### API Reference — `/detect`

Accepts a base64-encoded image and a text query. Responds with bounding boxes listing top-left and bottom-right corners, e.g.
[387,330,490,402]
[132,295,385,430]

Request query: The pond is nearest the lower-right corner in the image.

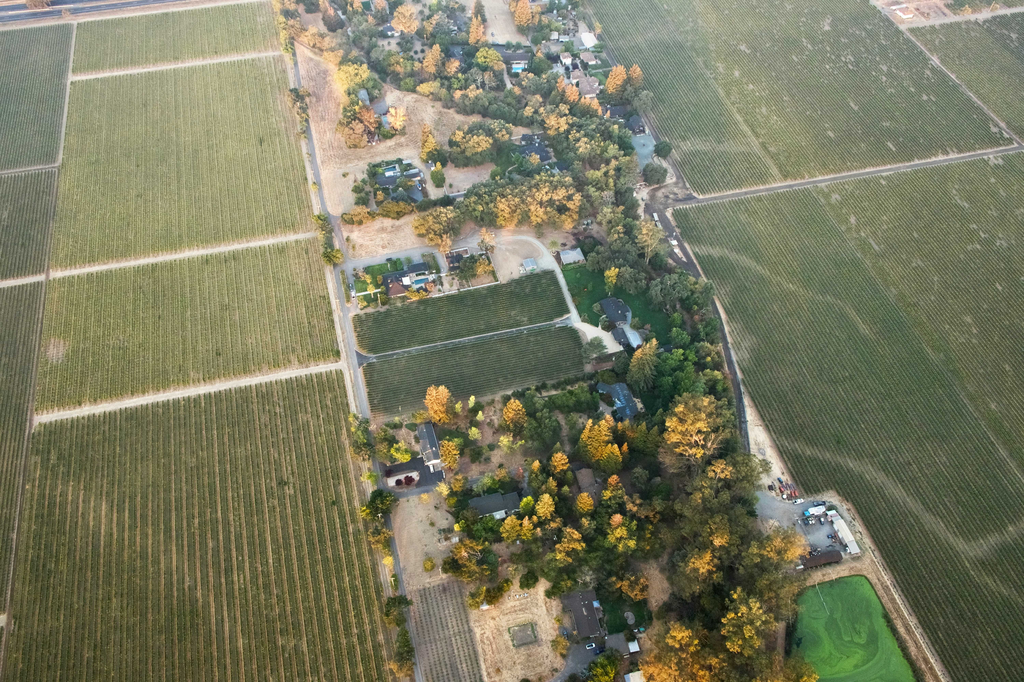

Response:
[791,576,914,682]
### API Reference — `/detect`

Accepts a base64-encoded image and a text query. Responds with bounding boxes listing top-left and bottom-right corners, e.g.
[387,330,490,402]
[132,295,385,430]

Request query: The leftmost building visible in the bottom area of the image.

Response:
[416,424,440,467]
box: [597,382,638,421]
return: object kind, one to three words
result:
house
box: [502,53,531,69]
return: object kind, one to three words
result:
house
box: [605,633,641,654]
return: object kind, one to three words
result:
building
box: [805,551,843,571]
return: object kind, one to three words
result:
barn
